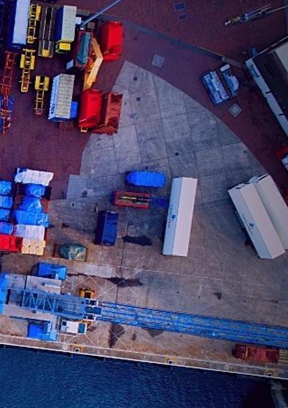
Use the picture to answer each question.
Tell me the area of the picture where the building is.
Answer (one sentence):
You can find the building in the top right area of the picture.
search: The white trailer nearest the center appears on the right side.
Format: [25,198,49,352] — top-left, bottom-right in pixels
[162,177,197,258]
